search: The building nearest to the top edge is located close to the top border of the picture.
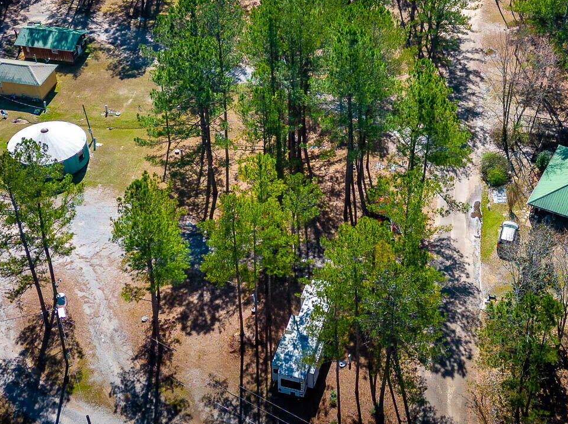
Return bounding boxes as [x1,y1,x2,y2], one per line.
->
[14,15,94,65]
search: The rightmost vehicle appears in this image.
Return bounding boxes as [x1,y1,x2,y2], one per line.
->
[498,222,519,255]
